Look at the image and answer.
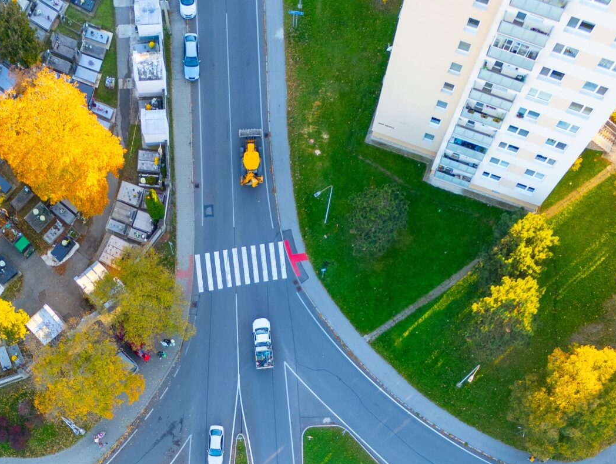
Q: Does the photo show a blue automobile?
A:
Yes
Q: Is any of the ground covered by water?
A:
No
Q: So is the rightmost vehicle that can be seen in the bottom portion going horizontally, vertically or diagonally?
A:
vertically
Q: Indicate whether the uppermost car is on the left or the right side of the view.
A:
left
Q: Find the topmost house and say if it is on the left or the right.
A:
left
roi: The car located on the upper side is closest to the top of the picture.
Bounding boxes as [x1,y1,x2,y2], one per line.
[177,0,198,24]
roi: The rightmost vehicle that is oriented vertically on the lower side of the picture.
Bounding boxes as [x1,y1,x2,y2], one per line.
[251,319,272,369]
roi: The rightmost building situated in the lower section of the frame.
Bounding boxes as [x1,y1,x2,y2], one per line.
[74,261,108,300]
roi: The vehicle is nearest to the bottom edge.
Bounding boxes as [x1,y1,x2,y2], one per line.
[205,424,226,464]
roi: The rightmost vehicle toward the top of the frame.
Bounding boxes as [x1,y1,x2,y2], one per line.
[239,130,262,188]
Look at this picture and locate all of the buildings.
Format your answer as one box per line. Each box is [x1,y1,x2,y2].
[74,261,108,300]
[134,52,165,96]
[141,109,169,145]
[134,0,162,42]
[361,0,616,220]
[26,306,64,349]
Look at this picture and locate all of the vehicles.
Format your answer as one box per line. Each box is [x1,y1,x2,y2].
[205,424,226,464]
[239,130,262,188]
[251,319,272,369]
[177,0,198,24]
[181,35,202,82]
